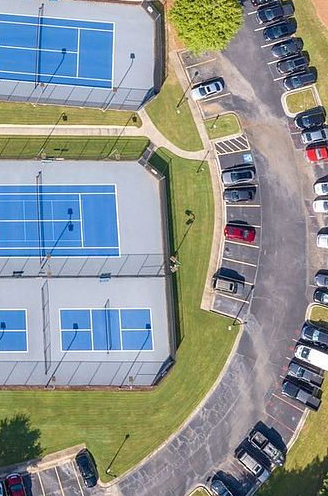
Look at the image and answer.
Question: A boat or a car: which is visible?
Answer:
car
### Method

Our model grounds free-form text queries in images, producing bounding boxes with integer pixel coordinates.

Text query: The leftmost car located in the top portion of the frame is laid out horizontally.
[191,81,224,98]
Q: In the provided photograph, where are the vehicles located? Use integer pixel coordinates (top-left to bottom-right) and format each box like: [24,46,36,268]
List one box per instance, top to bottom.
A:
[249,0,275,6]
[258,2,299,23]
[262,21,296,38]
[270,39,304,56]
[272,53,314,74]
[282,70,317,88]
[191,81,224,98]
[292,111,327,128]
[299,128,328,143]
[303,143,328,159]
[220,170,256,185]
[313,179,328,195]
[222,187,257,202]
[312,199,328,214]
[222,226,256,241]
[315,234,328,248]
[313,272,328,286]
[211,278,243,294]
[310,290,328,306]
[299,323,328,347]
[293,344,328,371]
[282,360,328,391]
[277,380,322,413]
[246,431,287,466]
[75,450,96,488]
[237,451,271,481]
[7,468,24,496]
[210,476,236,496]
